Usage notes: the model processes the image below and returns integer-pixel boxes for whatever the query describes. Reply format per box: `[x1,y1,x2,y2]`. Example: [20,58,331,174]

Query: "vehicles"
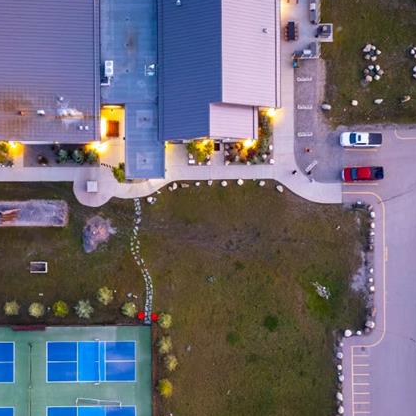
[341,166,383,182]
[339,131,381,148]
